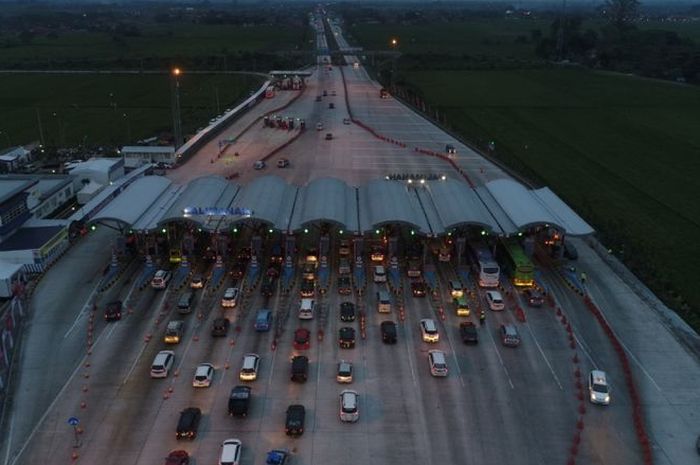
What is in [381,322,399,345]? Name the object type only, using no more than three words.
car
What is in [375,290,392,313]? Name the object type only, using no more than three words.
vehicle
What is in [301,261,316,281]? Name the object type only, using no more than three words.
vehicle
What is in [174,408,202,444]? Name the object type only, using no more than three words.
car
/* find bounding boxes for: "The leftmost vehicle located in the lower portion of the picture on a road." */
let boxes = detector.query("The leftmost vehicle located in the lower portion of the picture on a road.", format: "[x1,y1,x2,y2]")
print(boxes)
[100,302,125,323]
